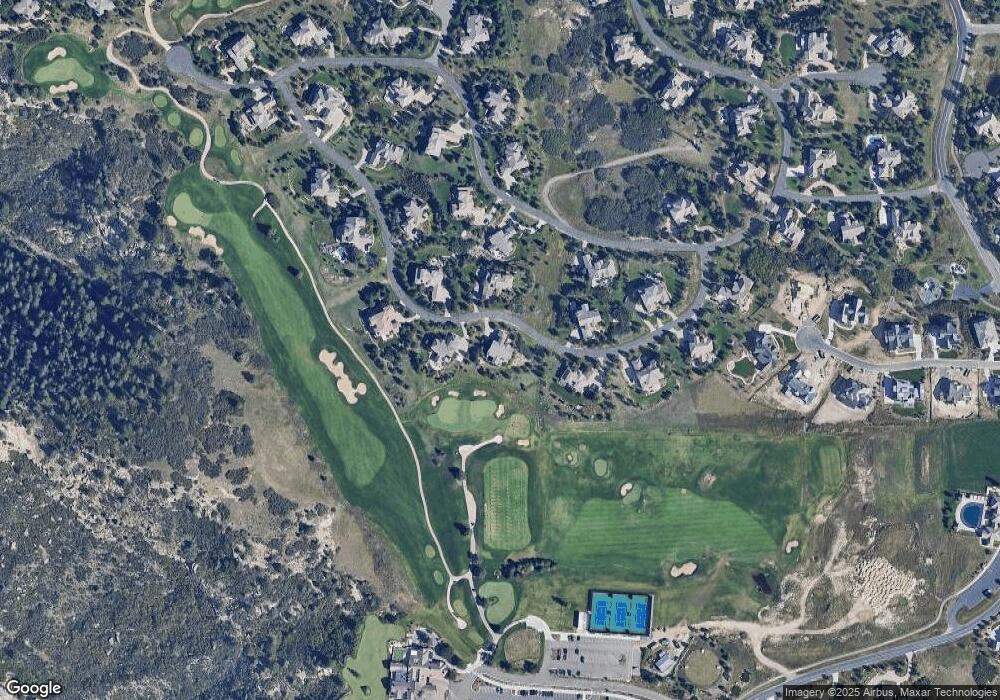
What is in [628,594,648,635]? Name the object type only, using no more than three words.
tennis court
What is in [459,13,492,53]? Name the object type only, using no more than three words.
house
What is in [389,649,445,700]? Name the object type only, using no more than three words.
building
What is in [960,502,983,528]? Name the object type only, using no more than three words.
swimming pool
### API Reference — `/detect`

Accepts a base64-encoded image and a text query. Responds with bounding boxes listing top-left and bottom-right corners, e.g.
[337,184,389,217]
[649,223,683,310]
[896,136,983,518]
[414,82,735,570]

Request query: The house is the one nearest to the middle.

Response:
[483,327,519,368]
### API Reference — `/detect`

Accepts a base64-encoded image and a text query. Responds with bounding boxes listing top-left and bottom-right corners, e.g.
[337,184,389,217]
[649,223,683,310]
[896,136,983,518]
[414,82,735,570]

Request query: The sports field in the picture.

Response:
[945,422,1000,494]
